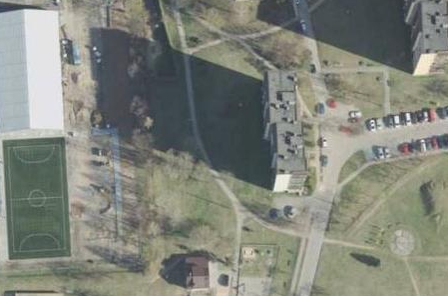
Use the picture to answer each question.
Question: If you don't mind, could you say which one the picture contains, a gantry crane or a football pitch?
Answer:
football pitch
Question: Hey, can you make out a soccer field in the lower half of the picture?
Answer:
Yes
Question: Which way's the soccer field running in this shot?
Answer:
vertically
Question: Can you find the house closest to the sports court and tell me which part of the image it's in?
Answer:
bottom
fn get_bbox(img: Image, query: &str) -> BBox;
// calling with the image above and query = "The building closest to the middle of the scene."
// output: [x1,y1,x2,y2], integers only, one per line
[263,71,306,194]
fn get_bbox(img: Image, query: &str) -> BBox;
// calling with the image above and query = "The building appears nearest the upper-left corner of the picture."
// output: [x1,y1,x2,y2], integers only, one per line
[0,8,64,135]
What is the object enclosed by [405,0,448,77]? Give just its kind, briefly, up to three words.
building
